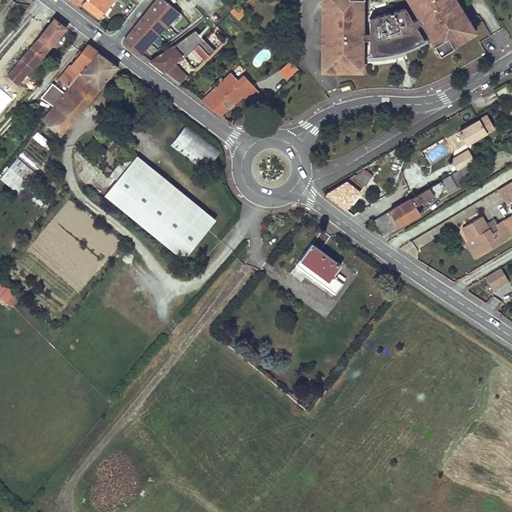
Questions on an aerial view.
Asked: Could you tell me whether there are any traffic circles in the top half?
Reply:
Yes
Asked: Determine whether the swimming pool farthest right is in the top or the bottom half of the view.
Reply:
top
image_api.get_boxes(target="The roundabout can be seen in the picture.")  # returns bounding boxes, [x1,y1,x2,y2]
[232,130,311,207]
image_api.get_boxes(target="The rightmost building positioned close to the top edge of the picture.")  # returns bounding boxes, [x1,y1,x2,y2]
[404,0,479,62]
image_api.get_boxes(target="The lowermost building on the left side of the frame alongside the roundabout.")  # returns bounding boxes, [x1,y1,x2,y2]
[105,157,216,260]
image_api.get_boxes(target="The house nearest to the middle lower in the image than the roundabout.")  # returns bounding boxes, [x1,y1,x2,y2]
[291,246,346,293]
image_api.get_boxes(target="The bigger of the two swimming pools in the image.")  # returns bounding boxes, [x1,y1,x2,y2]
[424,141,450,166]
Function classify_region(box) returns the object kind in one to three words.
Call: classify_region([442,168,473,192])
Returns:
shed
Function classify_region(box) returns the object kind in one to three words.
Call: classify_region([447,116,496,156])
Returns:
house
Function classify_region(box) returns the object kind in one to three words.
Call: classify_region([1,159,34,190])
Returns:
barn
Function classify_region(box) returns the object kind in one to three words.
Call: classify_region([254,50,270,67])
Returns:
swimming pool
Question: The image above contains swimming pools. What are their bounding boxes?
[254,50,270,67]
[424,141,450,166]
